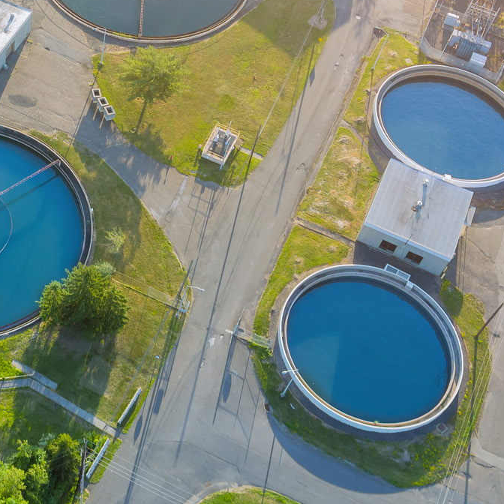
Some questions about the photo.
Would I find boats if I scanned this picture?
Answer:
No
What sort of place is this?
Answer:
industrial area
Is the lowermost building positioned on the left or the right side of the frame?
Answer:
right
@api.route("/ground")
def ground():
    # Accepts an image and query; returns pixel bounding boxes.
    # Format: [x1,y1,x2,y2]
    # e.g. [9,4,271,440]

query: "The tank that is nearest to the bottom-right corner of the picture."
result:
[275,265,463,433]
